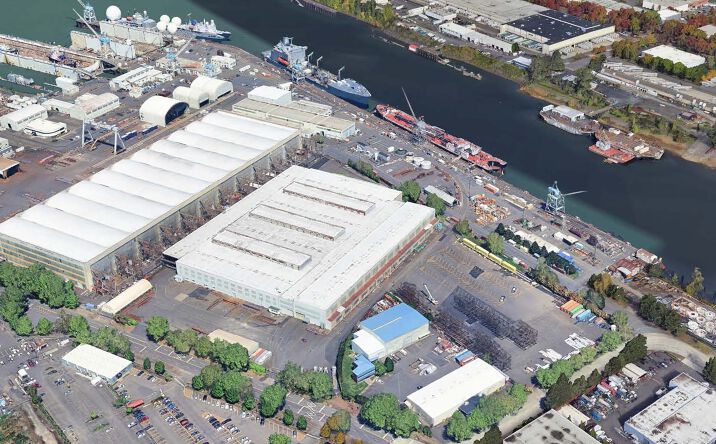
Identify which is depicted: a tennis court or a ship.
ship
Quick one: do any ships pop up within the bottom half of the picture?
No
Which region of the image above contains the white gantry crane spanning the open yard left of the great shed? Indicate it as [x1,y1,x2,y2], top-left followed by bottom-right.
[76,117,126,155]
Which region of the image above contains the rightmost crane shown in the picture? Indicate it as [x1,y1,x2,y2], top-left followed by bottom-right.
[544,175,590,220]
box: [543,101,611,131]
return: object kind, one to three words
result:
ship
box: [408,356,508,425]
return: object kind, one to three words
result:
building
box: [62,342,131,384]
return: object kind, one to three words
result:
building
